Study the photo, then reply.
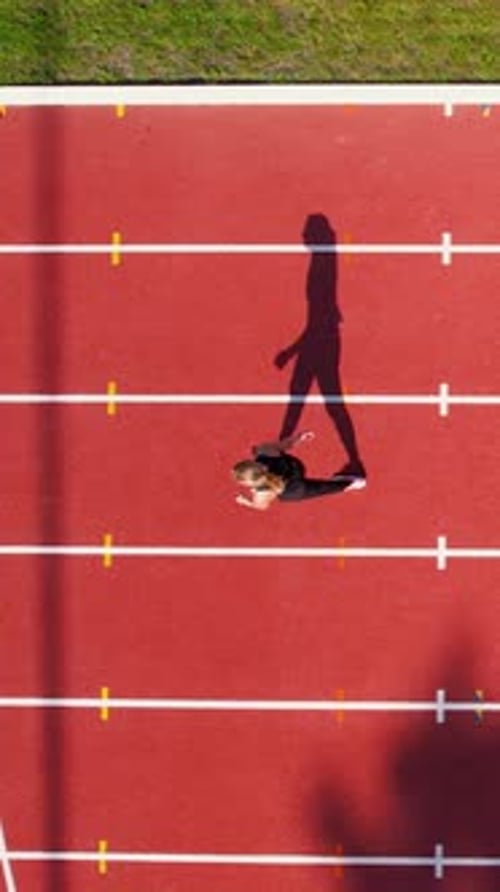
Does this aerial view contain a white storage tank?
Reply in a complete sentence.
No, the picture doesn't show any white storage tank.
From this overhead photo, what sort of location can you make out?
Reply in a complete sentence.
It's a sports ground.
